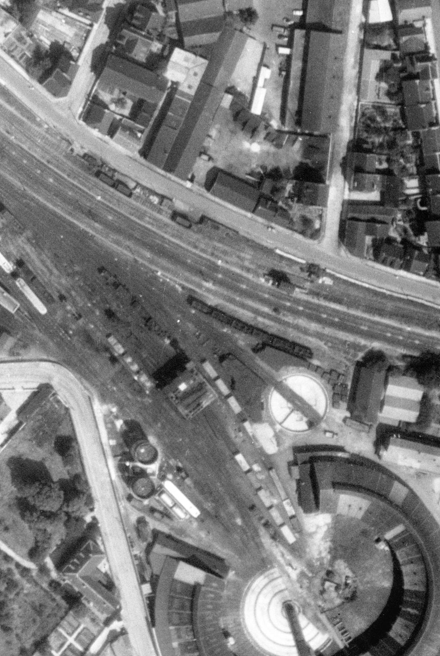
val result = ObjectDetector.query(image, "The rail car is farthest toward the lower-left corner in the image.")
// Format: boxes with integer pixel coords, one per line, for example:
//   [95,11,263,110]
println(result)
[164,480,199,518]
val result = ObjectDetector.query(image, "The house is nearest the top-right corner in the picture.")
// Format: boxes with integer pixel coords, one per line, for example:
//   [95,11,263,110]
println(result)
[393,0,434,24]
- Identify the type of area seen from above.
residential area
